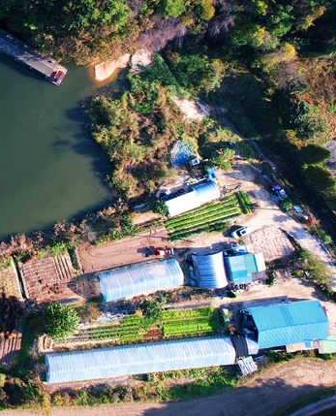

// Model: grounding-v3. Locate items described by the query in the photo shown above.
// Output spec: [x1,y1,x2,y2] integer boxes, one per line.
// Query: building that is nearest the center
[163,192,201,216]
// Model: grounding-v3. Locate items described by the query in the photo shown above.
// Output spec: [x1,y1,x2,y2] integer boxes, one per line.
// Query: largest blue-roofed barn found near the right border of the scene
[246,297,329,347]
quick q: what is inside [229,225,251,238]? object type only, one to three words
vehicle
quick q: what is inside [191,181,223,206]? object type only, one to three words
building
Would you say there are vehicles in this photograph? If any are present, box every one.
[151,247,171,257]
[273,183,291,203]
[229,225,251,238]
